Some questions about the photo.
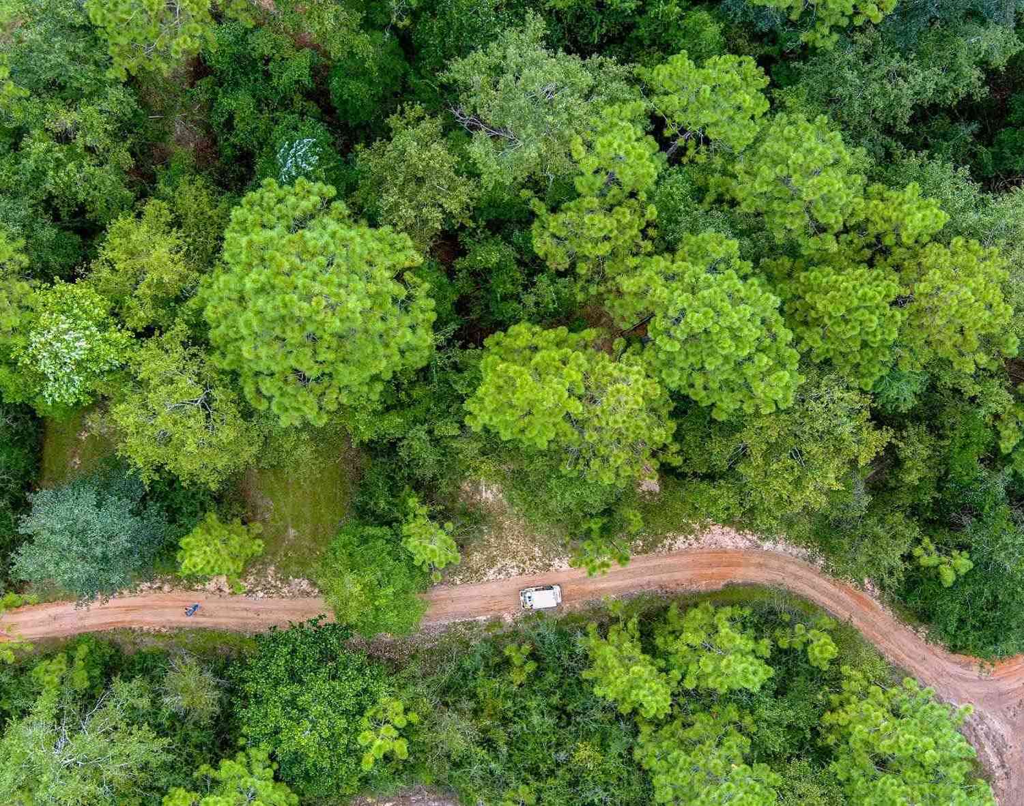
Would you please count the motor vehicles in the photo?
one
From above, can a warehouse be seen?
No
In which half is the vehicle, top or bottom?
bottom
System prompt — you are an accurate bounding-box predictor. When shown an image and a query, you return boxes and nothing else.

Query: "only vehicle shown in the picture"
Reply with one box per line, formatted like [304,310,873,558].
[520,582,561,609]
